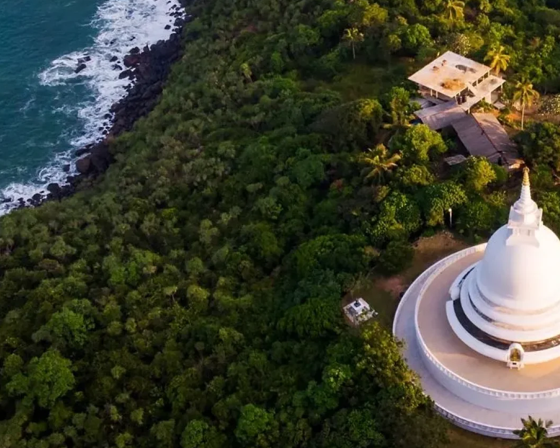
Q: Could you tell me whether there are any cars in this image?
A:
No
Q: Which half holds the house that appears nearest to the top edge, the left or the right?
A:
right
